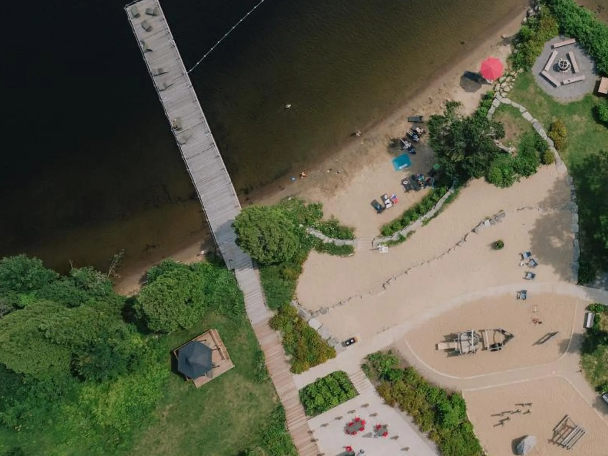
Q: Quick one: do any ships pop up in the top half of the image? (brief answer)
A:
No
